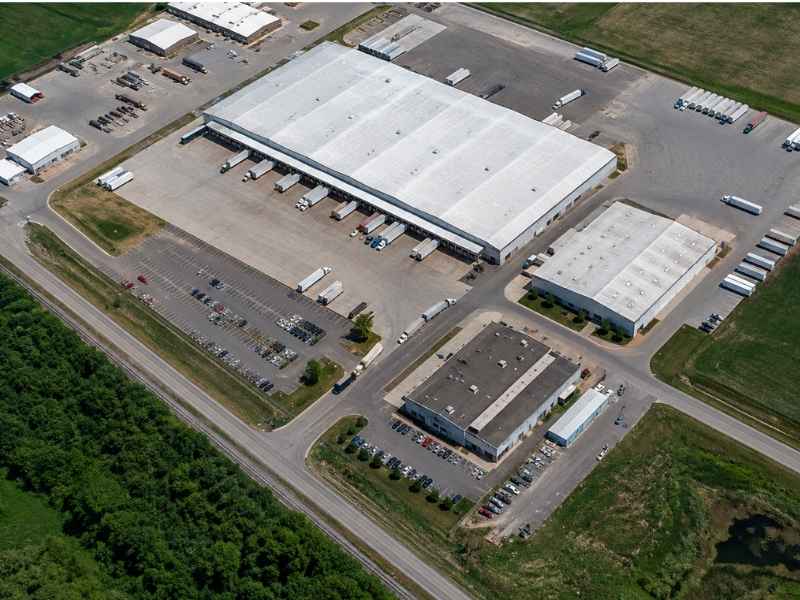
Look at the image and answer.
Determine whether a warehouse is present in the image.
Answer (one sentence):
Yes, this view includes a warehouse.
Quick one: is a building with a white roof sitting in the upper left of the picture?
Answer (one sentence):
Yes, a building with a white roof shows up in the upper left of the picture.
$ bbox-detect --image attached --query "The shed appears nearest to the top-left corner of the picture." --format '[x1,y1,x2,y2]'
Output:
[11,84,43,104]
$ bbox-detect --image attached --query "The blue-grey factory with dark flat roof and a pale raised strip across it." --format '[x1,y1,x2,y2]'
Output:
[402,320,581,462]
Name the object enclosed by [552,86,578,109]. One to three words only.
truck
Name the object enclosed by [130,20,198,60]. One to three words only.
shed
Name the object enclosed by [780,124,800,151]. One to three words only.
vehicle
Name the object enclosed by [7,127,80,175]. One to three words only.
building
